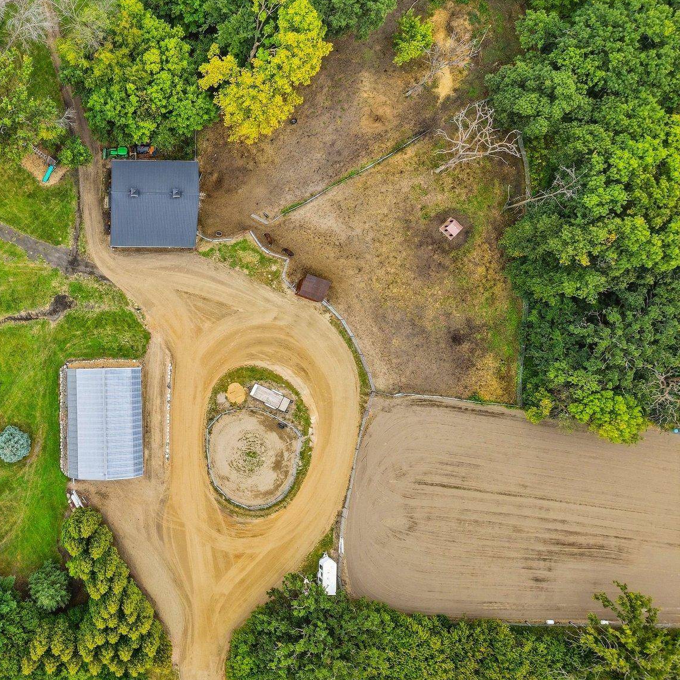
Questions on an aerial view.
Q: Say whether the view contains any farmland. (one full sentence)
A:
Yes, there's farmland in this view.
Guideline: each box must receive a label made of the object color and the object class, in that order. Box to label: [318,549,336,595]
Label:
white trailer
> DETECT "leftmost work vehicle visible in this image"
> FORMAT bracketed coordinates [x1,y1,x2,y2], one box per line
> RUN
[102,147,127,160]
